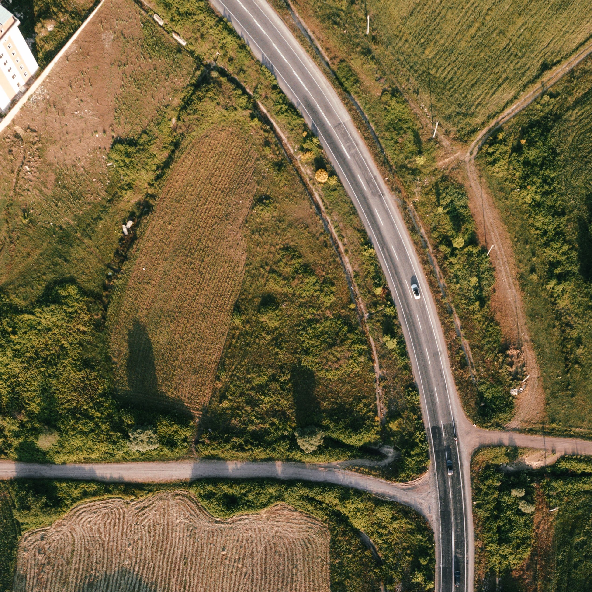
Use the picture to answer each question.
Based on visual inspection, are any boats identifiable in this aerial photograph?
No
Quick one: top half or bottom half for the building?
top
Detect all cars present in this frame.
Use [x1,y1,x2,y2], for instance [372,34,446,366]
[454,571,461,587]
[411,282,421,299]
[446,459,453,474]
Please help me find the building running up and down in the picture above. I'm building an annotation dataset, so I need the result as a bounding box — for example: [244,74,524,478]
[0,17,39,113]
